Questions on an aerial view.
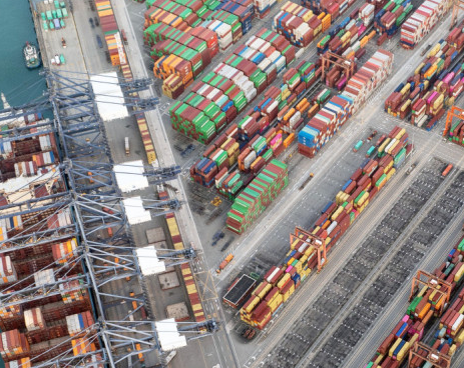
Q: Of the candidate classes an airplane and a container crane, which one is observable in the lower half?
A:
container crane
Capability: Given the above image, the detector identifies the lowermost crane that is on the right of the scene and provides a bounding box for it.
[407,339,451,368]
